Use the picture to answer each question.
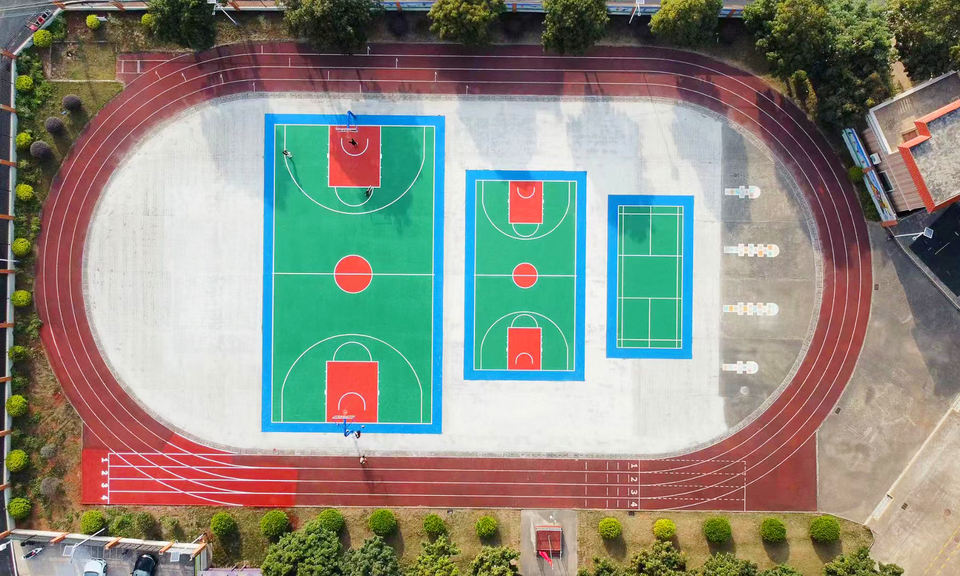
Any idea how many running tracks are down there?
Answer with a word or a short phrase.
one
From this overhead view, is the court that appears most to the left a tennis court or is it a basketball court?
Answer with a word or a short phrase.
basketball court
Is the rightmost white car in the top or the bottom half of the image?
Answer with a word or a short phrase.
bottom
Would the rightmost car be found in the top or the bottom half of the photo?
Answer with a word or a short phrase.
bottom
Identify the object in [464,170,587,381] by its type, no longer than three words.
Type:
basketball court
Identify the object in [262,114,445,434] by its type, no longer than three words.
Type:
basketball court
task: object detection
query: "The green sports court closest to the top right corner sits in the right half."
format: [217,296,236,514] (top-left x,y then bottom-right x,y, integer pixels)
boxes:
[607,195,694,358]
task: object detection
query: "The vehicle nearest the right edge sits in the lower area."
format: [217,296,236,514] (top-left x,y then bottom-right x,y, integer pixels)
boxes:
[132,552,160,576]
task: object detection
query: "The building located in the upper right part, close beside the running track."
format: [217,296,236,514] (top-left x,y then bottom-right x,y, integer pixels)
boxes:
[844,63,960,217]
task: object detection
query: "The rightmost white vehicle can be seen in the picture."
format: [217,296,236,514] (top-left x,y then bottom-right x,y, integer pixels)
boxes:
[81,555,110,576]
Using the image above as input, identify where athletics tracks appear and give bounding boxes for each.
[31,40,874,513]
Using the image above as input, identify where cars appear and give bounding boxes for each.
[132,552,160,576]
[81,555,110,576]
